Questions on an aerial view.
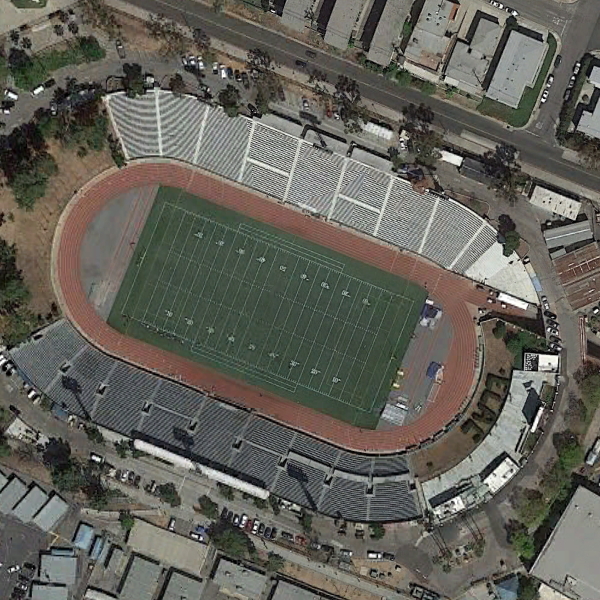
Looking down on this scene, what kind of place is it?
sports ground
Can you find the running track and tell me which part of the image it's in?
center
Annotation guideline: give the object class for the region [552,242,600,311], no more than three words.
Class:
building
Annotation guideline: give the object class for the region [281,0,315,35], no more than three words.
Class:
house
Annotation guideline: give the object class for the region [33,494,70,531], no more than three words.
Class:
house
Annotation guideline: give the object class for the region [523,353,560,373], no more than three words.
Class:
building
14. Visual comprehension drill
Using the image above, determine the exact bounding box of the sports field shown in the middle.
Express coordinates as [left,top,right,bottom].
[106,186,429,428]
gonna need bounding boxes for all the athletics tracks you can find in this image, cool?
[57,163,542,451]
